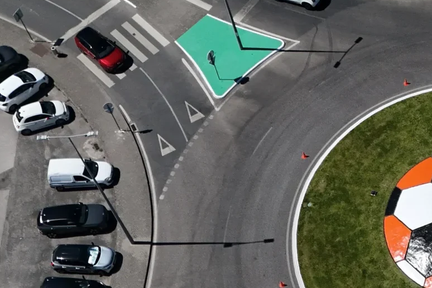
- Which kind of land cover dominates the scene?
paved ground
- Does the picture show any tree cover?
No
